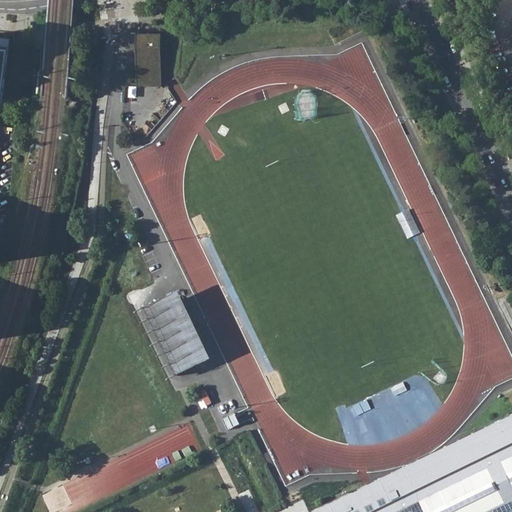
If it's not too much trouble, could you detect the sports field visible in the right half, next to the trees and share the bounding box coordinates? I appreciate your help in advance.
[184,84,464,445]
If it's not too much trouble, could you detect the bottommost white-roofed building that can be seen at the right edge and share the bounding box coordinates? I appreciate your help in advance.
[330,415,512,512]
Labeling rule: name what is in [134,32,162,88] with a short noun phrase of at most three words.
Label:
building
